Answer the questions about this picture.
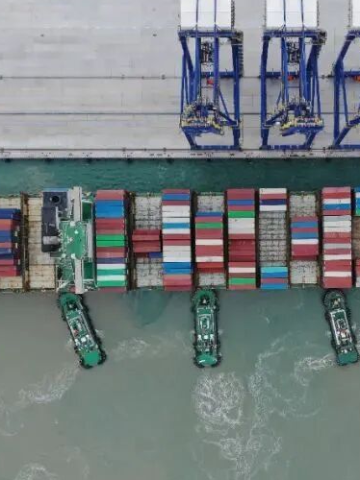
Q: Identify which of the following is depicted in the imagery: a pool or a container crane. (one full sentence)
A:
Of the two, only a container crane appears.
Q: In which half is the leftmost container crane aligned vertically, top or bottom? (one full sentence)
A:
The leftmost container crane aligned vertically is in the top half of the image.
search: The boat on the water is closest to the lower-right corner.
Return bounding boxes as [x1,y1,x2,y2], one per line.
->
[322,288,360,368]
